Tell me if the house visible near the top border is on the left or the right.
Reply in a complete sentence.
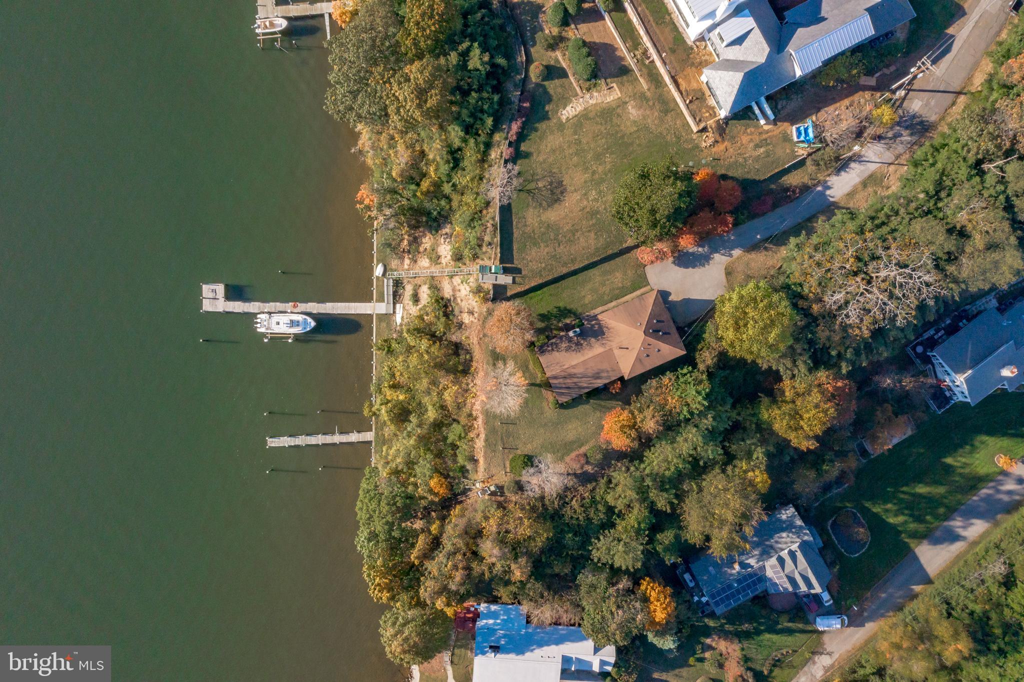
The house visible near the top border sits on the right side.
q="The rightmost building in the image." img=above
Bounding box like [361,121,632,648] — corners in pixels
[900,289,1024,414]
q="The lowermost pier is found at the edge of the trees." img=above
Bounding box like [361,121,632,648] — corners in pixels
[267,426,373,447]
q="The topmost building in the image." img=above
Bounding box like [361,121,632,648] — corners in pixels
[680,0,917,119]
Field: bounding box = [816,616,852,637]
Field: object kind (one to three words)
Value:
vehicle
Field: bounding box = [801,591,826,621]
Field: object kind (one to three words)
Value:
car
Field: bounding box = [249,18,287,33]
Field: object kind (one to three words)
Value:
boat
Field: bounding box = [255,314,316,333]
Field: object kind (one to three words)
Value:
boat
